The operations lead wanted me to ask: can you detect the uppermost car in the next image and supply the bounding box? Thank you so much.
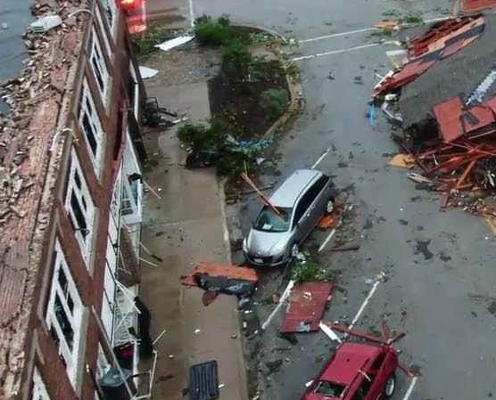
[242,172,333,267]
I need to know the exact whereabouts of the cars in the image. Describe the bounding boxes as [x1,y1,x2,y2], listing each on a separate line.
[242,172,333,267]
[296,325,402,400]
